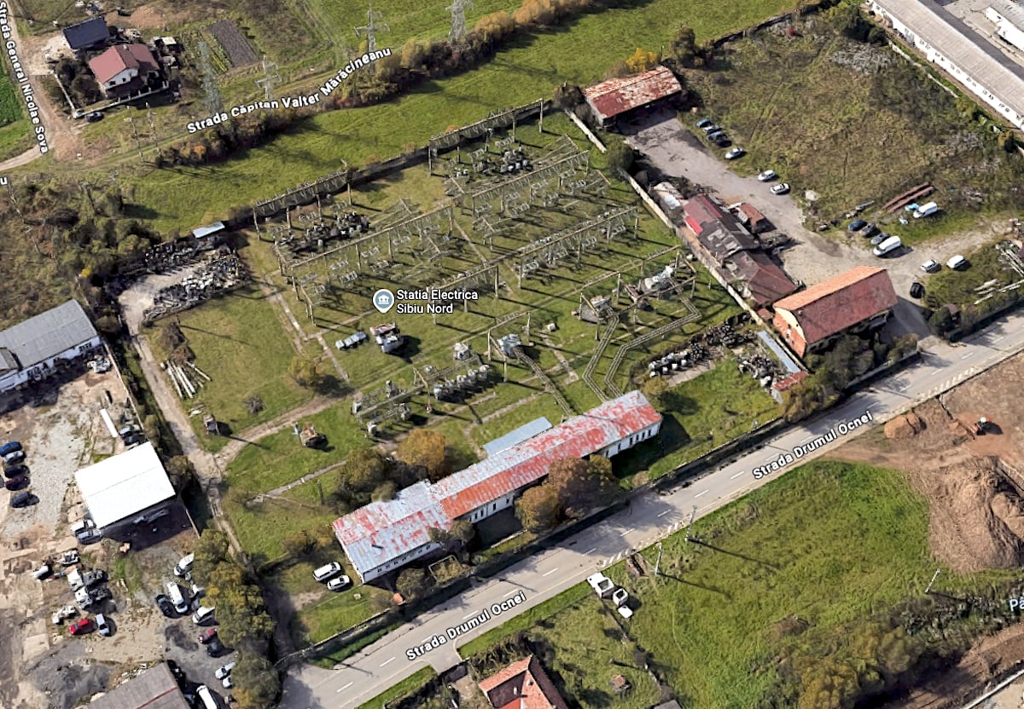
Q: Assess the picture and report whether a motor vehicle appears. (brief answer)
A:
Yes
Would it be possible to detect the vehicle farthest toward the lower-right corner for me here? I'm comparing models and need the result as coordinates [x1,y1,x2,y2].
[965,416,993,437]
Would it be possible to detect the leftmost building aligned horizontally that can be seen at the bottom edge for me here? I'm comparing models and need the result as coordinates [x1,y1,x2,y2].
[86,664,189,709]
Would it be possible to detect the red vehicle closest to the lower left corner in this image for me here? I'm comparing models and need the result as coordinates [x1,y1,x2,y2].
[68,620,95,638]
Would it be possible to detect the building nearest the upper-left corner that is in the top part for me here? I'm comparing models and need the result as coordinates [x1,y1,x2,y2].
[62,16,111,59]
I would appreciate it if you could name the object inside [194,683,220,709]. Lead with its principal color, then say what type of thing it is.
white vehicle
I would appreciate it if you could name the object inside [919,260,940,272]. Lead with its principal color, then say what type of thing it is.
white vehicle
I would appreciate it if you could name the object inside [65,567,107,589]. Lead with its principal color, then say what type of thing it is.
white truck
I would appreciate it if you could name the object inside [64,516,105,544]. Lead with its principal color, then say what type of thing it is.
white truck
